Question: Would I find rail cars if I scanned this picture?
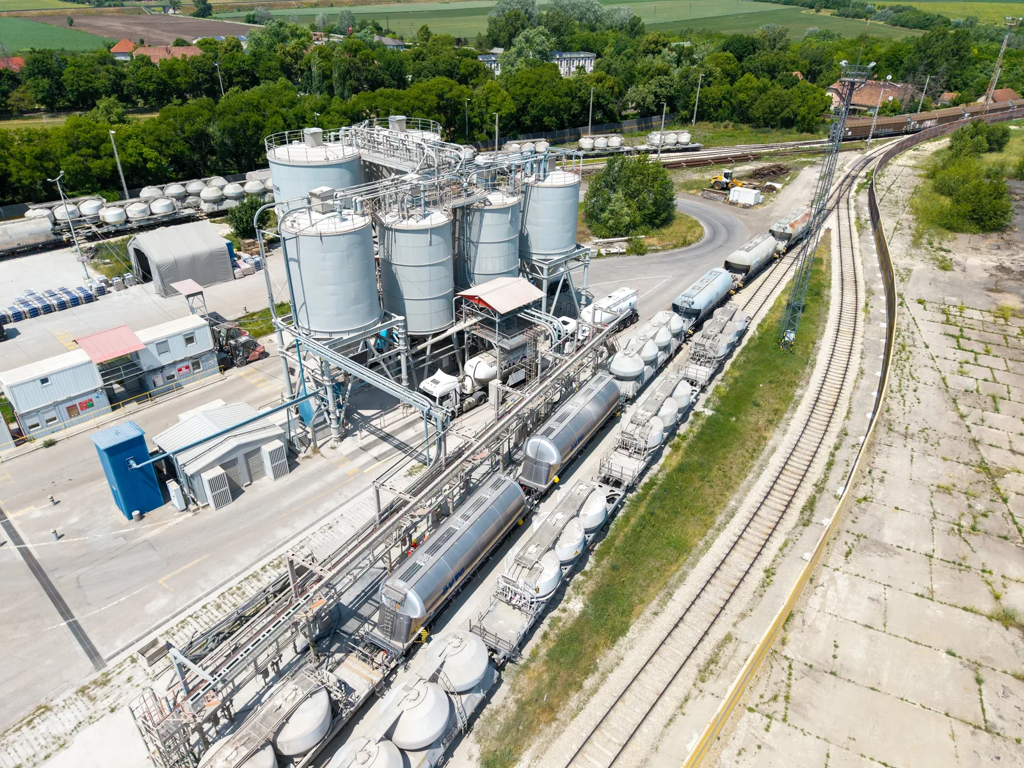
Yes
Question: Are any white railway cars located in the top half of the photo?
Yes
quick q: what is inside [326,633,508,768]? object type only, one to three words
rail car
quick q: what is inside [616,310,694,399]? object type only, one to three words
rail car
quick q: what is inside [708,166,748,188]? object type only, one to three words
work vehicle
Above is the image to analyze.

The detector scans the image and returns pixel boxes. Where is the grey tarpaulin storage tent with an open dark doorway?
[138,226,235,297]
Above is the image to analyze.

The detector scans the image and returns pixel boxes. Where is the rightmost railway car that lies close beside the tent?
[187,171,274,209]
